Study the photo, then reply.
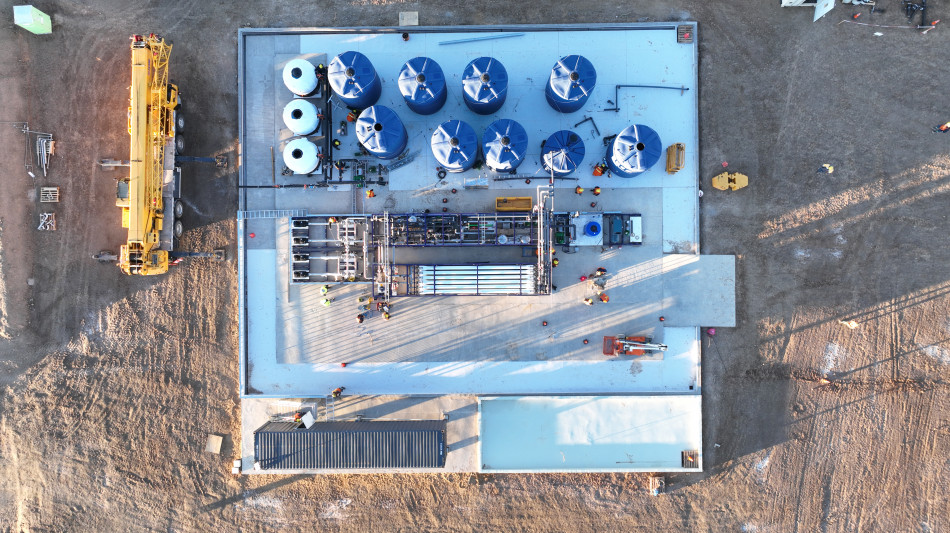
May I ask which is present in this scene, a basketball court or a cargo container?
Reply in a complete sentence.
Of the two, only a cargo container appears.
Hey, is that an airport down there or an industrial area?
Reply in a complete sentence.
It's an industrial area.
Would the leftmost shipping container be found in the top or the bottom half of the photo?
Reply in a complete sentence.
The leftmost shipping container is in the bottom half of the image.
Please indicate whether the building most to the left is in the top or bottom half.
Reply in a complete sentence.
It is in the top half that the building most to the left appears.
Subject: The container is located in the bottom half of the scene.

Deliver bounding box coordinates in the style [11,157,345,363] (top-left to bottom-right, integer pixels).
[254,411,453,470]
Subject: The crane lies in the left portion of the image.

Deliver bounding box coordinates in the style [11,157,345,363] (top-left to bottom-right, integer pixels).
[91,32,230,274]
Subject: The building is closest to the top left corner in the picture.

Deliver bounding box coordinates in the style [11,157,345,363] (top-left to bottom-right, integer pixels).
[13,6,51,35]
